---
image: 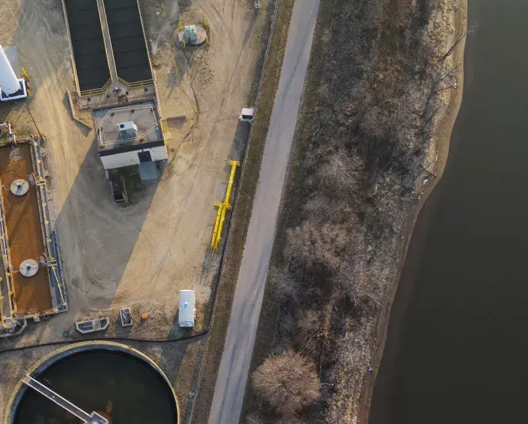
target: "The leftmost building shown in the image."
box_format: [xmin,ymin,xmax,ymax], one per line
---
[93,100,169,167]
